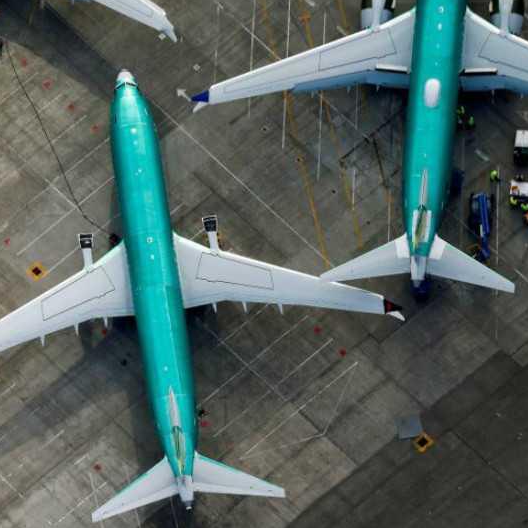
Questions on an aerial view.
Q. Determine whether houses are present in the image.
No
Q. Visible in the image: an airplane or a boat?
airplane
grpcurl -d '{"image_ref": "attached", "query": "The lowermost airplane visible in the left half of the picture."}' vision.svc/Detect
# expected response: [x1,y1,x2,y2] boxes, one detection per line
[0,68,404,523]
